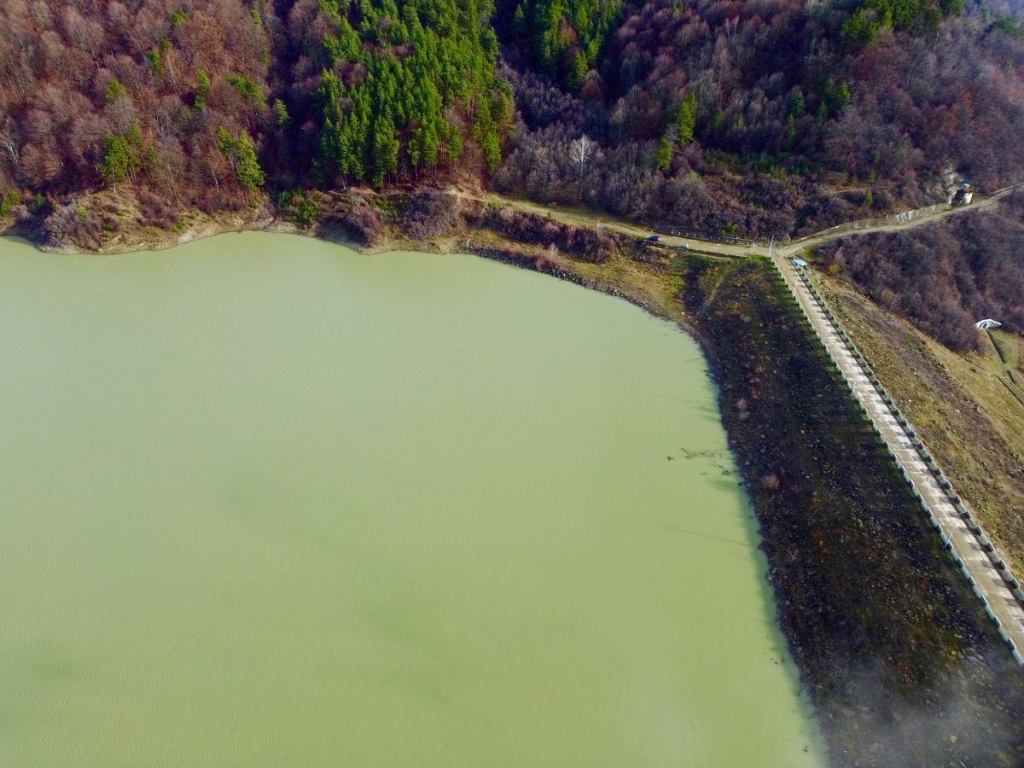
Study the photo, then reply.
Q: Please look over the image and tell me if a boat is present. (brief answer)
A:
No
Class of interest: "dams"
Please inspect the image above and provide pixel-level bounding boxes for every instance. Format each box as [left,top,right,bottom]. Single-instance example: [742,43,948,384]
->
[663,255,1024,768]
